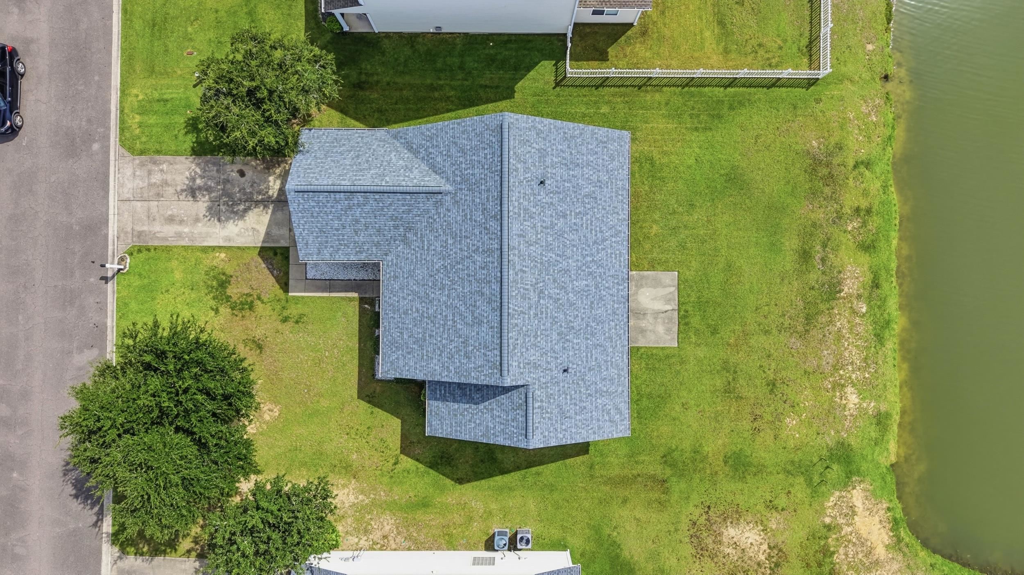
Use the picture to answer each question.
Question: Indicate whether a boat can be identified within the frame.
No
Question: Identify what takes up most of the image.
grass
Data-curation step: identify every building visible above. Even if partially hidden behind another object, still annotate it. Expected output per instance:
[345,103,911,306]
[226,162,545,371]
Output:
[285,111,631,450]
[322,0,653,35]
[304,548,582,575]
